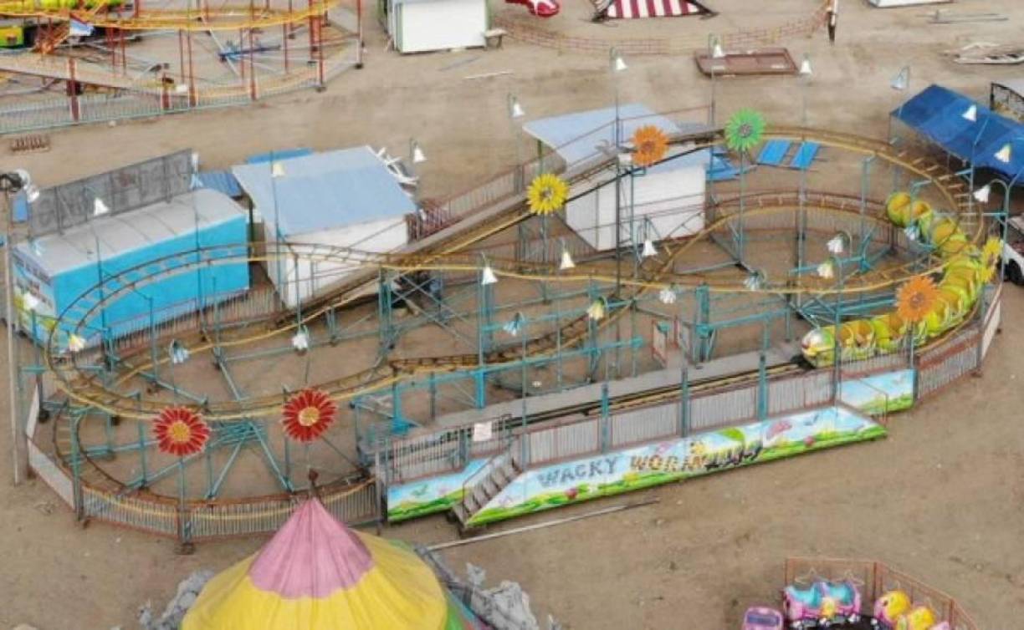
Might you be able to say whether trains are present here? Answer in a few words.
Yes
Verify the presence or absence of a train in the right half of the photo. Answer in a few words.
Yes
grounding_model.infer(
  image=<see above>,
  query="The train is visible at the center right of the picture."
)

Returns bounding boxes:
[796,191,994,373]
